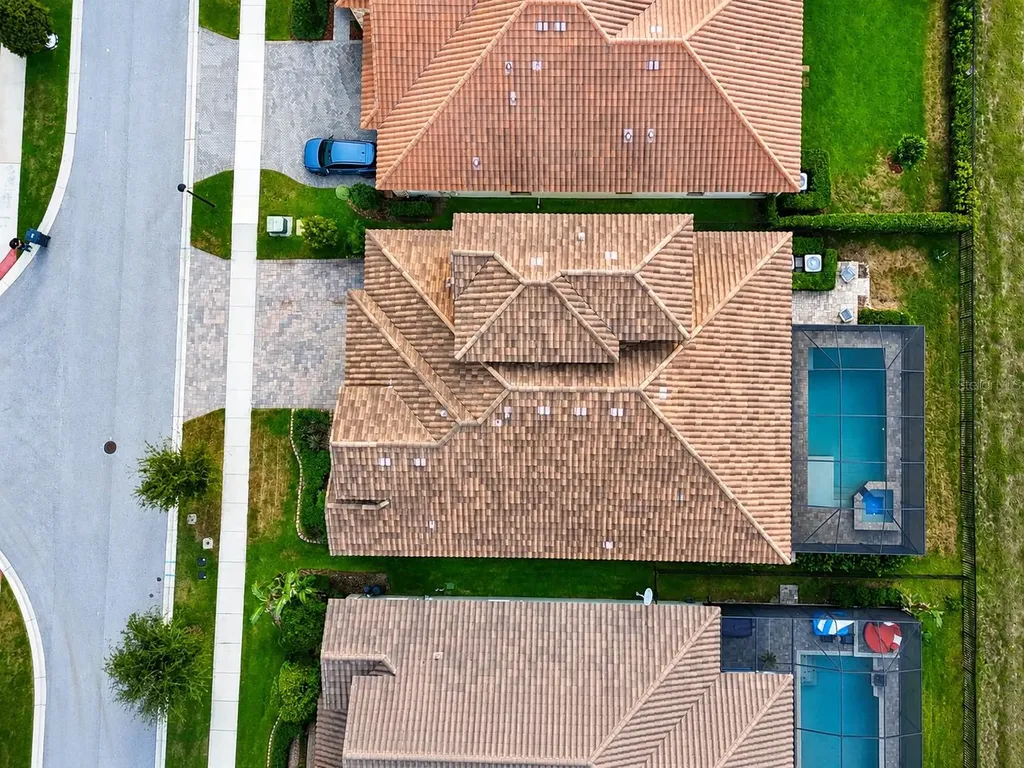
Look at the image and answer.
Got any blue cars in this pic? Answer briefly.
Yes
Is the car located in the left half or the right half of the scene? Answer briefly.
left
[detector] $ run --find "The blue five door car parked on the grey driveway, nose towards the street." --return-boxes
[305,135,377,177]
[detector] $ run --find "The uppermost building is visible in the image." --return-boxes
[334,0,805,203]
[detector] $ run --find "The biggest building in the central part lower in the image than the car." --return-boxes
[325,211,797,565]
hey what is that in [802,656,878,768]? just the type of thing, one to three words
swimming pool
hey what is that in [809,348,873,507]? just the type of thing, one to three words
swimming pool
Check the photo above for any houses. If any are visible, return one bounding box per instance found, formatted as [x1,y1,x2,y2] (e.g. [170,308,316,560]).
[304,593,797,768]
[325,211,797,565]
[334,0,805,203]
